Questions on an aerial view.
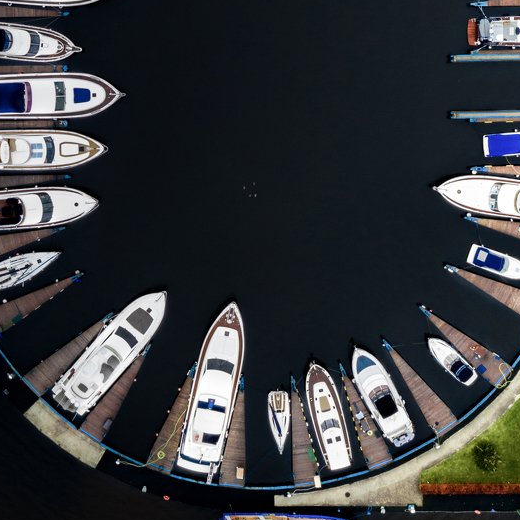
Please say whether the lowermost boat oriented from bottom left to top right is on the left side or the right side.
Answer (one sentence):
You can find the lowermost boat oriented from bottom left to top right on the left side of the picture.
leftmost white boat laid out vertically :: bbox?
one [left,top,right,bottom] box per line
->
[178,299,243,484]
